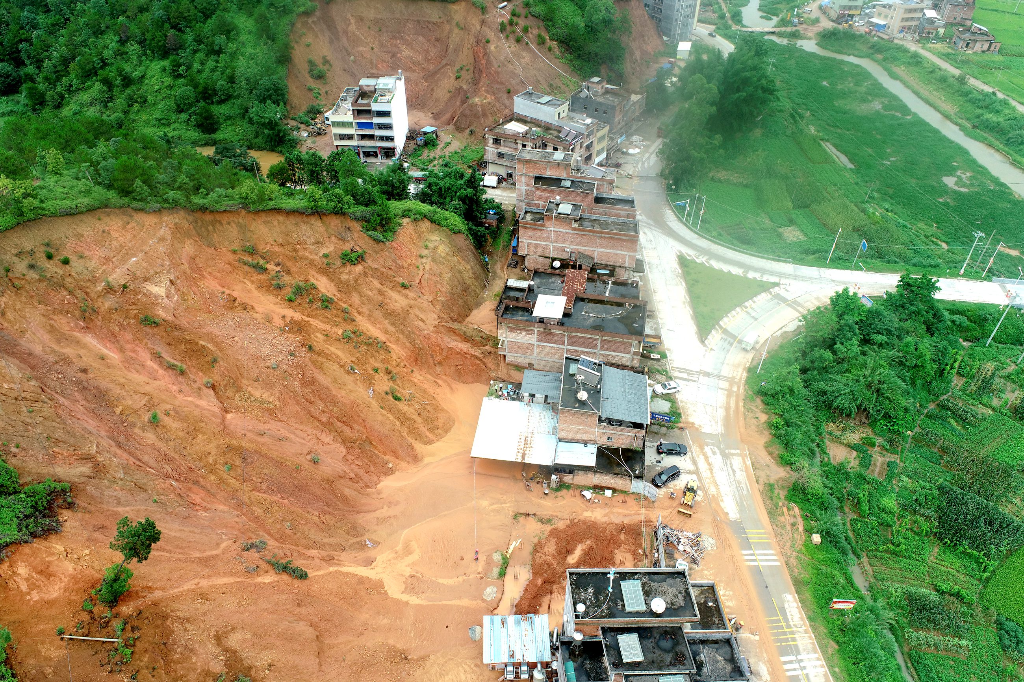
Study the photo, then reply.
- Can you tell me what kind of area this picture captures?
residential area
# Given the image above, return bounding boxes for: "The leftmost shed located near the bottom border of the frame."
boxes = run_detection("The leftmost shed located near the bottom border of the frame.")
[483,614,551,675]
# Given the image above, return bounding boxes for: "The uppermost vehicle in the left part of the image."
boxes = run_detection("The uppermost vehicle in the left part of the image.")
[303,120,327,137]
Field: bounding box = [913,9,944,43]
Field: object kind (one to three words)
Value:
house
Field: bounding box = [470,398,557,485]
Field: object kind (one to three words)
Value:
shed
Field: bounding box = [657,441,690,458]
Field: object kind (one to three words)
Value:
car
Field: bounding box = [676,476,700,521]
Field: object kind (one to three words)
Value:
work vehicle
